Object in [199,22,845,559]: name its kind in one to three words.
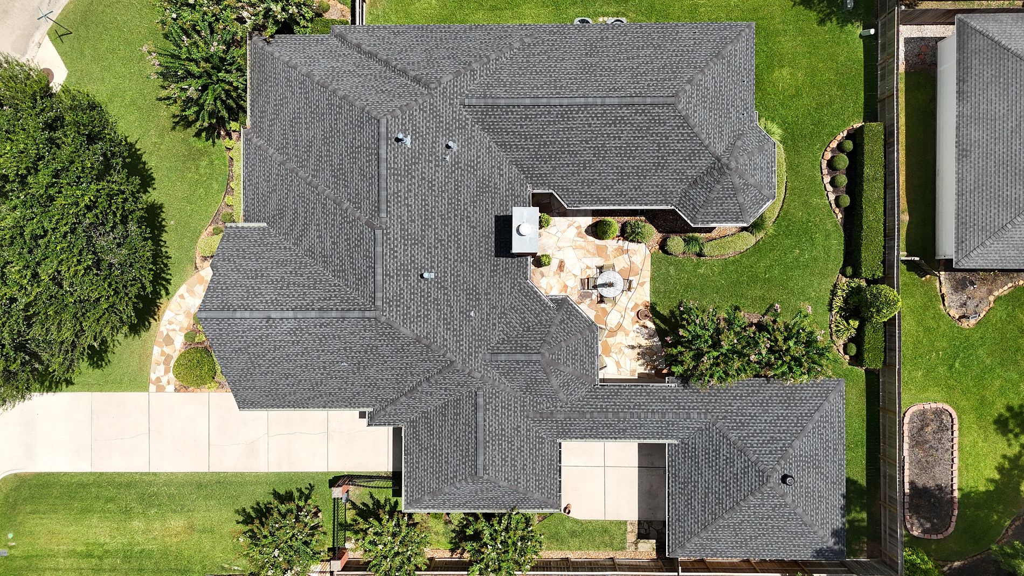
house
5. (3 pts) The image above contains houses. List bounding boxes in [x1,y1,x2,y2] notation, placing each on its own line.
[936,12,1024,270]
[199,22,845,559]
